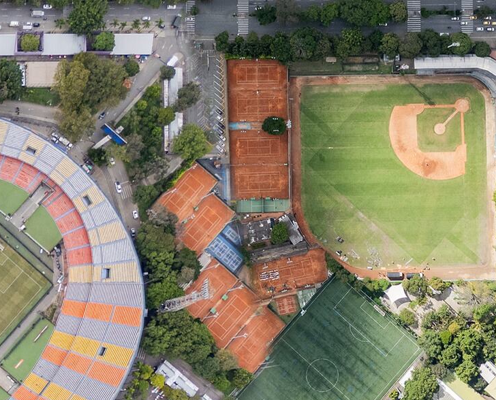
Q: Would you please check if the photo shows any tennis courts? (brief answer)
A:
Yes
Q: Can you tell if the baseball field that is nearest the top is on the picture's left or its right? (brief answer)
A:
right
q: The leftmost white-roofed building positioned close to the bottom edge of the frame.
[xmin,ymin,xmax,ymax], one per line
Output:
[155,359,200,397]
